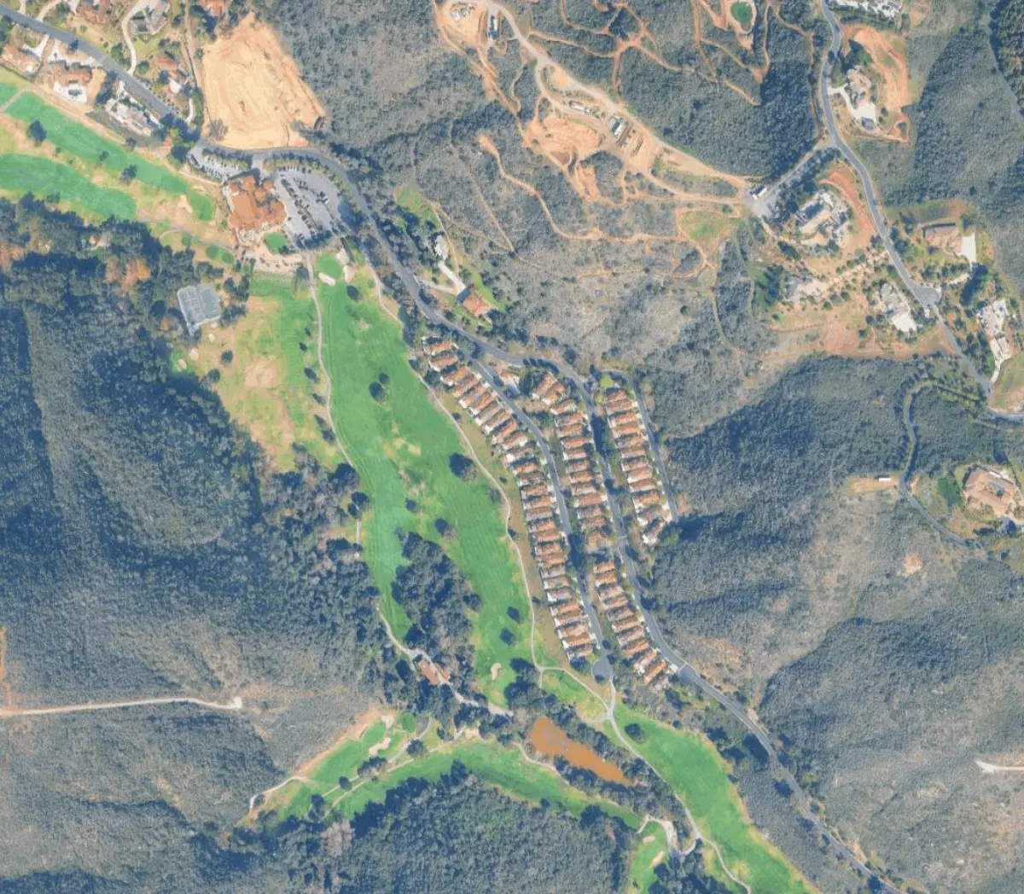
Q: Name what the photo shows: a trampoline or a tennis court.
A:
tennis court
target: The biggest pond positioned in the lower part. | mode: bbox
[533,717,632,787]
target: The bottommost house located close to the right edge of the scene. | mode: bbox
[961,462,1023,517]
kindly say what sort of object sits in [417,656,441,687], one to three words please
barn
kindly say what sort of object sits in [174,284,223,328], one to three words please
tennis court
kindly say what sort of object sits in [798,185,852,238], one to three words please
house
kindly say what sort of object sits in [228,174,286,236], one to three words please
building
